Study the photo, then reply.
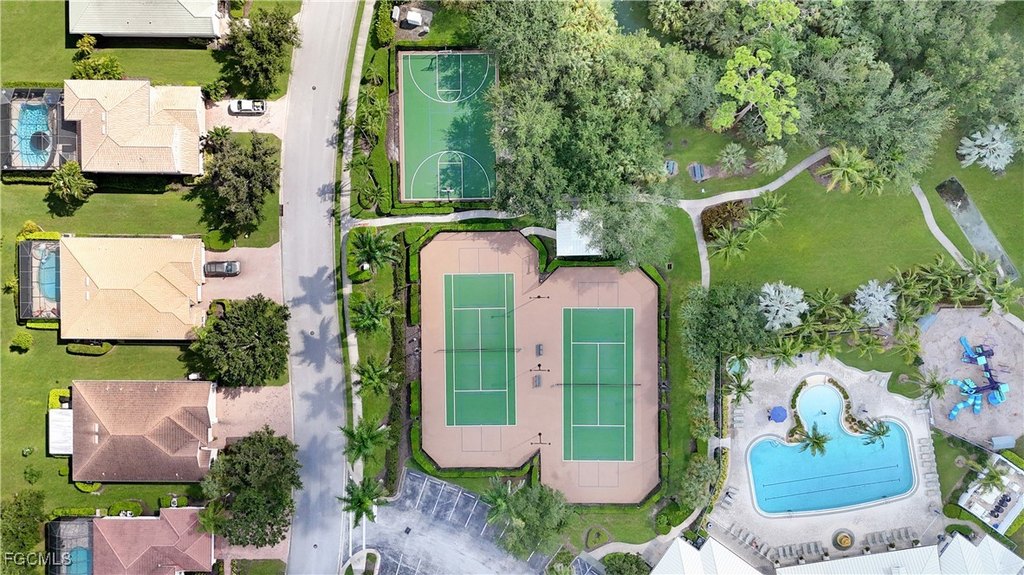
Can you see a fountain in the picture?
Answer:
Yes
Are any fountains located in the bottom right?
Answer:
Yes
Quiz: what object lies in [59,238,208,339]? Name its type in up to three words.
house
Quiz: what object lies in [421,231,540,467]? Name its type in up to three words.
tennis court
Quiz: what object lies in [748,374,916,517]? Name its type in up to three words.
swimming pool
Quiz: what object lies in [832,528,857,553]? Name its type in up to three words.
fountain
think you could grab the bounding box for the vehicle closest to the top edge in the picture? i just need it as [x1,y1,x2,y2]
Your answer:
[227,98,267,114]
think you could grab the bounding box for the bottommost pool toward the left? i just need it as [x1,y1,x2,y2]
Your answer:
[66,545,93,575]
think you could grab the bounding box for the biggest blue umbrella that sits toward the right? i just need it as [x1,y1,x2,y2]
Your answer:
[769,405,787,423]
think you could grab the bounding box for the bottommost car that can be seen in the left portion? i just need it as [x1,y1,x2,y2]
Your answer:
[205,261,238,276]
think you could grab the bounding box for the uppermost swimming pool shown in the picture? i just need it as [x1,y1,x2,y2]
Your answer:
[17,102,53,169]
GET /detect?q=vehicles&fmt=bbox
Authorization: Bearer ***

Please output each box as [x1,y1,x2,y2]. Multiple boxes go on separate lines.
[227,98,267,114]
[205,261,238,276]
